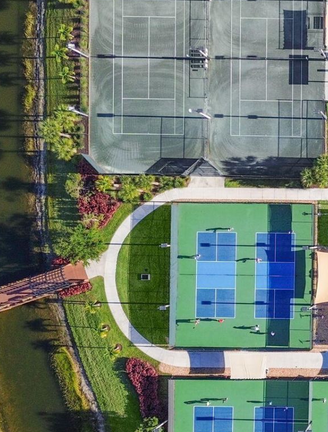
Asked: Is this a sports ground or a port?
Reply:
sports ground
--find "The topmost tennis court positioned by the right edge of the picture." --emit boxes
[207,0,325,176]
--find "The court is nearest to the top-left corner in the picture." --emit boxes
[87,0,208,174]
